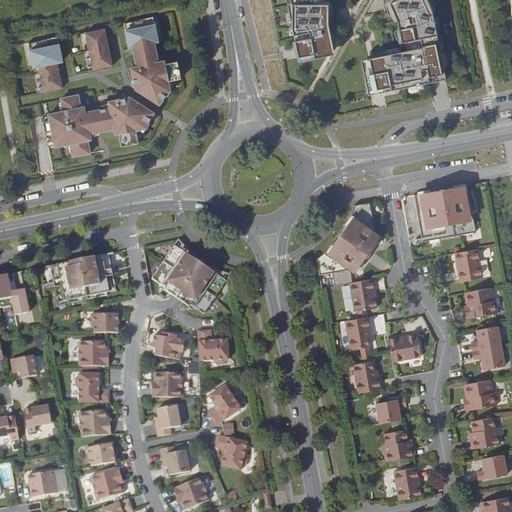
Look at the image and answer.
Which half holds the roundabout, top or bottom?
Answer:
top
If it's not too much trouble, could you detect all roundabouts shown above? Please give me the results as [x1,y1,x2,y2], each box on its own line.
[180,66,372,278]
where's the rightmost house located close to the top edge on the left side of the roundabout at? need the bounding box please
[126,15,172,108]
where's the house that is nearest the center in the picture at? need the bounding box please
[166,250,226,310]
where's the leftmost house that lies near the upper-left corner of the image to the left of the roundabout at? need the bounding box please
[29,36,64,94]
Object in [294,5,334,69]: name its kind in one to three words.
building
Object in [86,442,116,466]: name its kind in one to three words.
house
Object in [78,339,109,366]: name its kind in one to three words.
house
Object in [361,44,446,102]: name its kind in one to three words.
building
